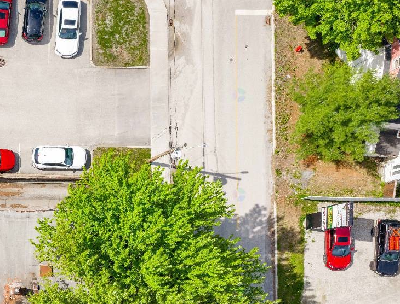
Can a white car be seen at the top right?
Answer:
No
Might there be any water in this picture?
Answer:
No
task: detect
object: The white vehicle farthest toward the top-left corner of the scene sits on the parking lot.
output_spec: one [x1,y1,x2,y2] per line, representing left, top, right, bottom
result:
[52,0,81,59]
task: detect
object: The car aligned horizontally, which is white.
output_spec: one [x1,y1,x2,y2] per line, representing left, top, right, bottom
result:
[31,143,86,170]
